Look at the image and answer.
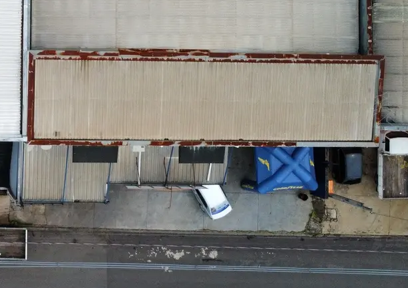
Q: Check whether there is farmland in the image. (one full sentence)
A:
No, farmland can't be seen anywhere here.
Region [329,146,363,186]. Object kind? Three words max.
car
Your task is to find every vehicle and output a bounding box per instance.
[373,127,408,200]
[329,146,363,186]
[0,227,27,261]
[183,181,229,220]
